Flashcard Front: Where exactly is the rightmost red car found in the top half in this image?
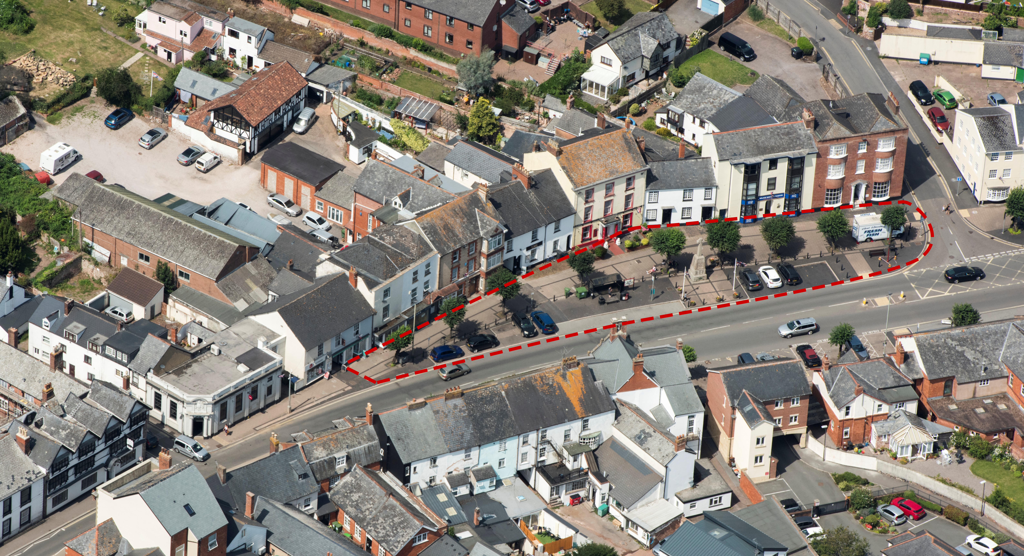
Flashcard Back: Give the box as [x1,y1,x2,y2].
[926,108,948,131]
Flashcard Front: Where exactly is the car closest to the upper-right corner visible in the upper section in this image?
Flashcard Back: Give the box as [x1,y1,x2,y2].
[981,88,1013,111]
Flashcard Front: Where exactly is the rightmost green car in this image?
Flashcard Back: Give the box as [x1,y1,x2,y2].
[931,89,959,110]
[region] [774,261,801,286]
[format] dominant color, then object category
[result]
black car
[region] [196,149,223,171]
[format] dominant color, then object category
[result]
white vehicle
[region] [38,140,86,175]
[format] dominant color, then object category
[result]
white camper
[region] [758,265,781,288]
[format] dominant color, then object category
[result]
white car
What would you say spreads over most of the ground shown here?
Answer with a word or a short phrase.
buildings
